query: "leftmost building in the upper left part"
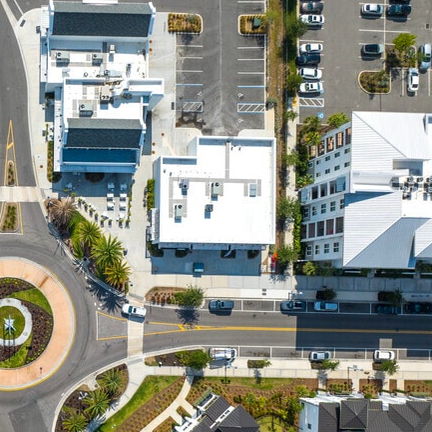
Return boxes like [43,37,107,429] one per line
[40,0,164,173]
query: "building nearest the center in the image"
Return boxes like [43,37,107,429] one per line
[150,137,276,250]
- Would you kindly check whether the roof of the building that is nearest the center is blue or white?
white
